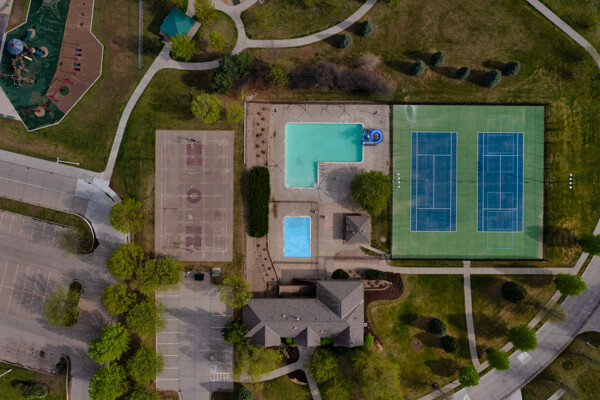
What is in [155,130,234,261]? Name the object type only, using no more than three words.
basketball court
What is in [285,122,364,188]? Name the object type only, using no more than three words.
swimming pool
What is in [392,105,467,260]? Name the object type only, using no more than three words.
tennis court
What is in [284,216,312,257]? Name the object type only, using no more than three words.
swimming pool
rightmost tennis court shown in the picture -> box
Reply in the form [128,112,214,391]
[466,105,544,260]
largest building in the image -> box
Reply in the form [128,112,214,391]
[243,280,366,346]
